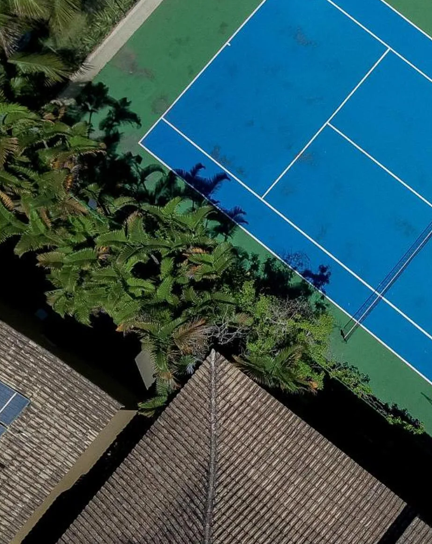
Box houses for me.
[0,261,163,544]
[49,347,430,544]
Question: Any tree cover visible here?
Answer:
Yes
